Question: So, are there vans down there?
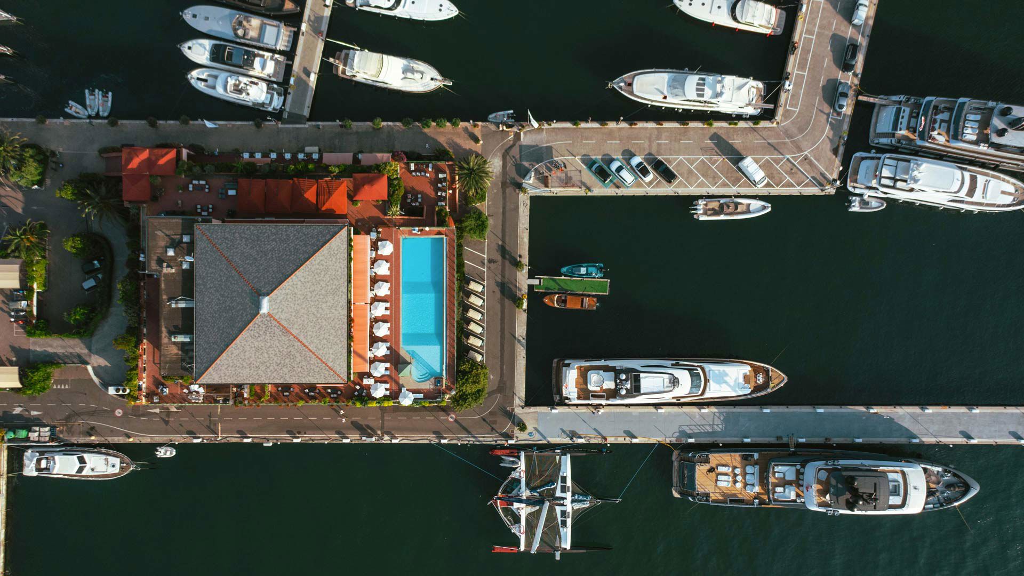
Yes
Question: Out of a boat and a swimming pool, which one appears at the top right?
boat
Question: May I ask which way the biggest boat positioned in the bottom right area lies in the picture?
from side to side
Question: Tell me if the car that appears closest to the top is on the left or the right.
right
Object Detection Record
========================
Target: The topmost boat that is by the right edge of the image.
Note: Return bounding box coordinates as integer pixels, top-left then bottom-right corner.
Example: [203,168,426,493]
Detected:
[864,95,1024,169]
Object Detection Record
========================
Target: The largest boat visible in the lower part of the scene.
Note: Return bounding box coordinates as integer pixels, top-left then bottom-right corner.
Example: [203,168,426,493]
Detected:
[671,447,980,514]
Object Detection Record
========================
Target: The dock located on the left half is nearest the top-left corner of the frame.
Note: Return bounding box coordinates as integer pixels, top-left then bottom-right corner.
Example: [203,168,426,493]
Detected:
[284,0,335,122]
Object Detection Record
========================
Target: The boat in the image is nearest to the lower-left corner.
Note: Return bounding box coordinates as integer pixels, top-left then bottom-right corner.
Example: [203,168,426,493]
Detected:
[24,448,140,480]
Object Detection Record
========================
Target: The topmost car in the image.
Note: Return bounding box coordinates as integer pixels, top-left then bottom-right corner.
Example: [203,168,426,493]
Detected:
[849,0,869,30]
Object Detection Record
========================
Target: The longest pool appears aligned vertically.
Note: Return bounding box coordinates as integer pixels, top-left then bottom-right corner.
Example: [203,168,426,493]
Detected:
[400,231,446,389]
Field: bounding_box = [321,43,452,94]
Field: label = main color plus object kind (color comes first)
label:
white boat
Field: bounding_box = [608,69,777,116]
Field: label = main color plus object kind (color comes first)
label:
white boat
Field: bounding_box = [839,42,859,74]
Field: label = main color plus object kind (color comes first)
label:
black car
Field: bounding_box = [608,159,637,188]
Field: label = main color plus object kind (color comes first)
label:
white car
